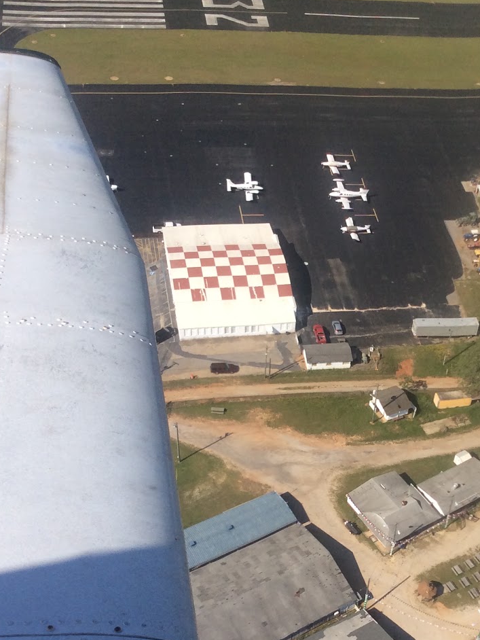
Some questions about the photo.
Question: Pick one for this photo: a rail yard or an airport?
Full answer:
This image shows an airport.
